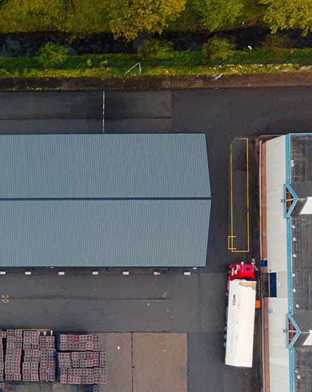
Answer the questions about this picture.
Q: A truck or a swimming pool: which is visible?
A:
truck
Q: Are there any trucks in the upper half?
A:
No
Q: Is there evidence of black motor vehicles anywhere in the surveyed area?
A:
No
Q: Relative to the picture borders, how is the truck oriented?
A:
vertically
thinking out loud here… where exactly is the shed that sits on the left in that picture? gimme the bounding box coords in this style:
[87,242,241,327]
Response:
[0,133,211,268]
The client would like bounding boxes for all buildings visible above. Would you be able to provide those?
[0,133,211,268]
[257,125,312,392]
